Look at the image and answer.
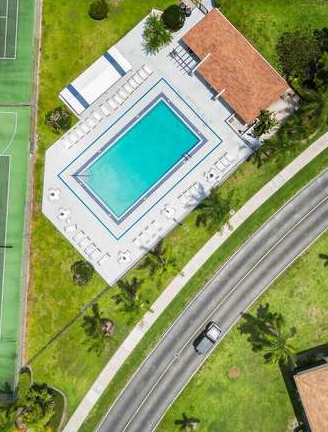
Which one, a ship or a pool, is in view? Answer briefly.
pool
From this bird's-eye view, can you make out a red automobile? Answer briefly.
No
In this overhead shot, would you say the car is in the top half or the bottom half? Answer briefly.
bottom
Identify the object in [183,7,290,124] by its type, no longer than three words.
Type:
building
